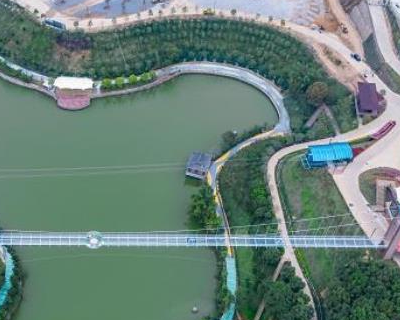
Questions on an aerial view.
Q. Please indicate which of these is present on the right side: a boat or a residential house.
residential house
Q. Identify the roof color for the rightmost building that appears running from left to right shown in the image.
blue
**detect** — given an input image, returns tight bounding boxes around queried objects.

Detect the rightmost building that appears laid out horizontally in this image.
[306,143,360,172]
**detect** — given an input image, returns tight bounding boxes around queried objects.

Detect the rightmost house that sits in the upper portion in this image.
[355,79,381,123]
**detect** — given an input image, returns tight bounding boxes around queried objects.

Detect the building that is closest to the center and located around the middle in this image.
[185,152,212,178]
